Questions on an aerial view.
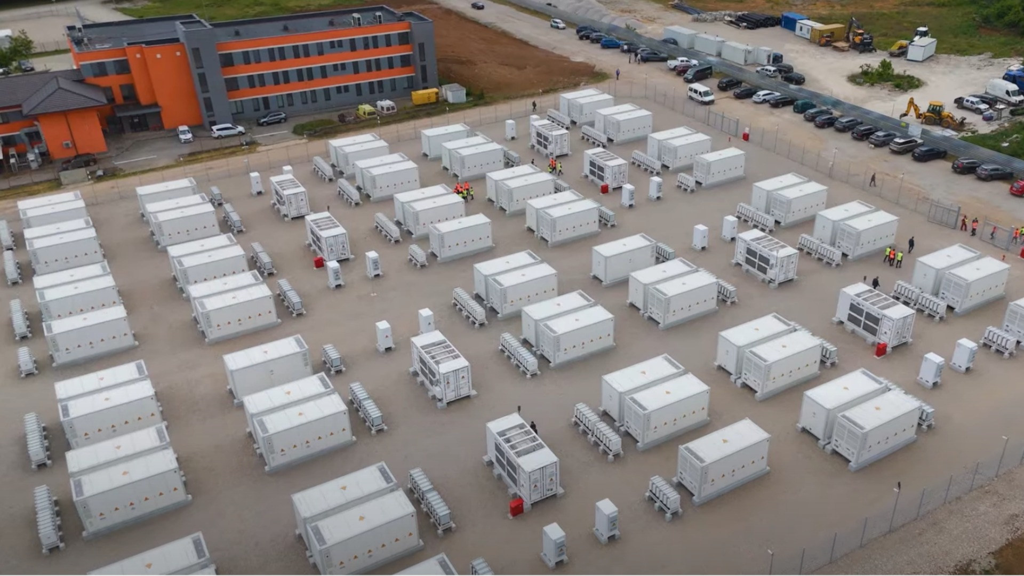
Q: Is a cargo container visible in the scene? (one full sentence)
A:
Yes, a cargo container is visible in the scene.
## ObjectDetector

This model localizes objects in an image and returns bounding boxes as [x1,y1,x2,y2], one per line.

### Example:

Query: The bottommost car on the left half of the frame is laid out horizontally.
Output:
[58,152,100,170]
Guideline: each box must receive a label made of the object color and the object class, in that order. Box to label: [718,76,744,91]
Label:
black car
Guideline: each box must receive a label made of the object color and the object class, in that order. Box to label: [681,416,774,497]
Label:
white shipping container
